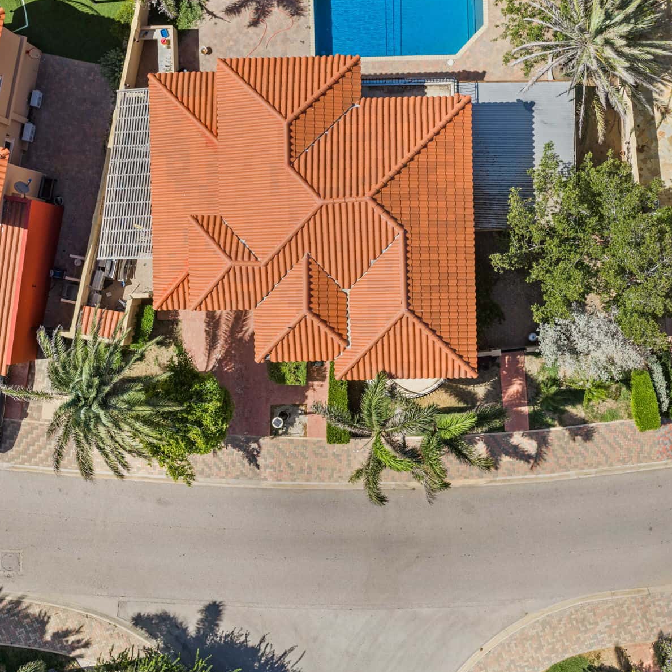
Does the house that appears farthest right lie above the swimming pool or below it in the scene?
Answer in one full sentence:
As seen from overhead, the house that appears farthest right falls below the swimming pool in the picture.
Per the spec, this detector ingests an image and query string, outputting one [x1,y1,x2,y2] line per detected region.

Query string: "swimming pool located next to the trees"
[310,0,489,60]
